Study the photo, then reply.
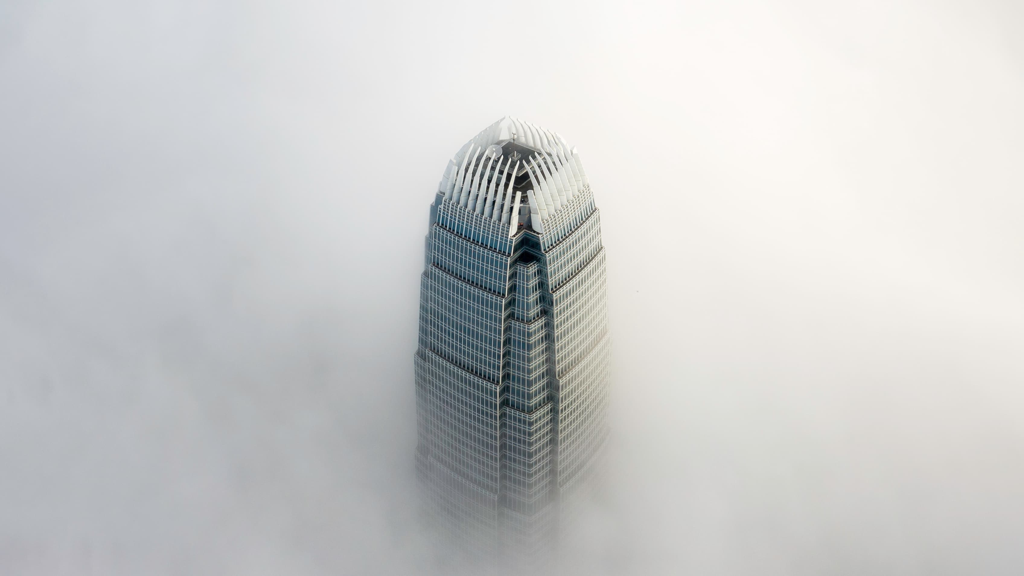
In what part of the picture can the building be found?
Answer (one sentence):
The building sits in the center section of the image.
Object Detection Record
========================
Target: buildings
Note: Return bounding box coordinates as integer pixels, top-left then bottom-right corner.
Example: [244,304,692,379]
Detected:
[411,115,616,576]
